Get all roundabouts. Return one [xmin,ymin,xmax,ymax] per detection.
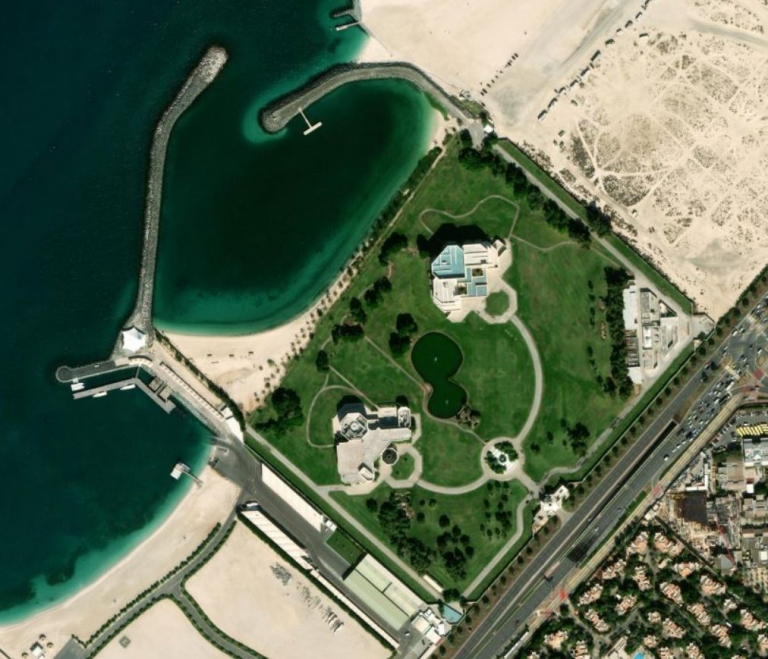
[482,437,524,479]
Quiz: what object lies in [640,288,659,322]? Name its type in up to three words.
building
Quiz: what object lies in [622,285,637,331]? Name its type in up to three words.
shed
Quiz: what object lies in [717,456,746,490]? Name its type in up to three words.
house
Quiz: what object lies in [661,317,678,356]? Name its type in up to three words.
building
